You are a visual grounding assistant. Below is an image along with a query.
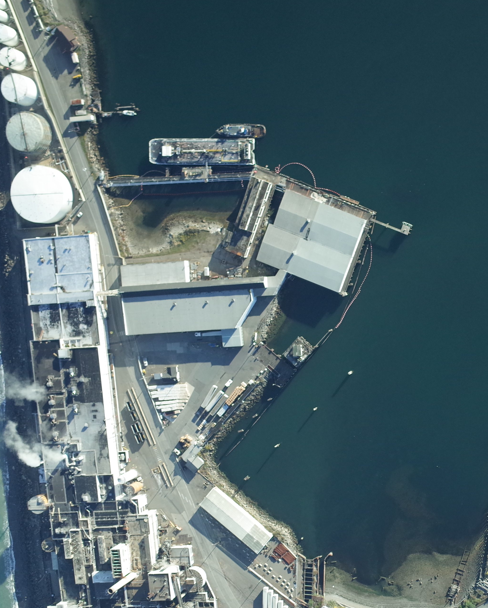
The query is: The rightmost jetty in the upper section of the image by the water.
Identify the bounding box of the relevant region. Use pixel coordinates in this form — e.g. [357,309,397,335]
[250,165,377,296]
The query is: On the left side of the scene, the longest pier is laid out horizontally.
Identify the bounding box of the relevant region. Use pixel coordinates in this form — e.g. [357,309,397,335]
[110,173,251,187]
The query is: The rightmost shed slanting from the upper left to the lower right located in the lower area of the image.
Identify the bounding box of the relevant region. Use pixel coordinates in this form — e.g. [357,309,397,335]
[199,486,277,554]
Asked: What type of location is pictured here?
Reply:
port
